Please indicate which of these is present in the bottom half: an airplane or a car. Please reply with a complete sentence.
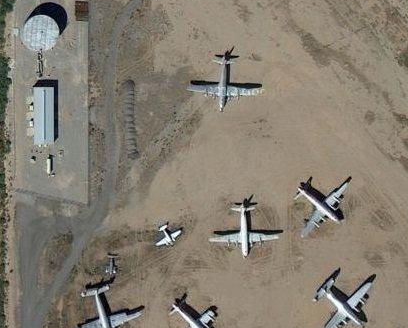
There is an airplane in the bottom half.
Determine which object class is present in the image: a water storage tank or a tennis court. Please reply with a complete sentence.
I can see a water storage tank in this picture.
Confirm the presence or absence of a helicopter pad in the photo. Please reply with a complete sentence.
No, I find no helicopter pad anywhere in the image.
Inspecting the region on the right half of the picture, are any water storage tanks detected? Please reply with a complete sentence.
No, on the right half of the picture there is no water storage tank.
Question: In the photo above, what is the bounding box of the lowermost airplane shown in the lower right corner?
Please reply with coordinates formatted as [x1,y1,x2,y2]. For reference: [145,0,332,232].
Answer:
[315,279,374,328]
